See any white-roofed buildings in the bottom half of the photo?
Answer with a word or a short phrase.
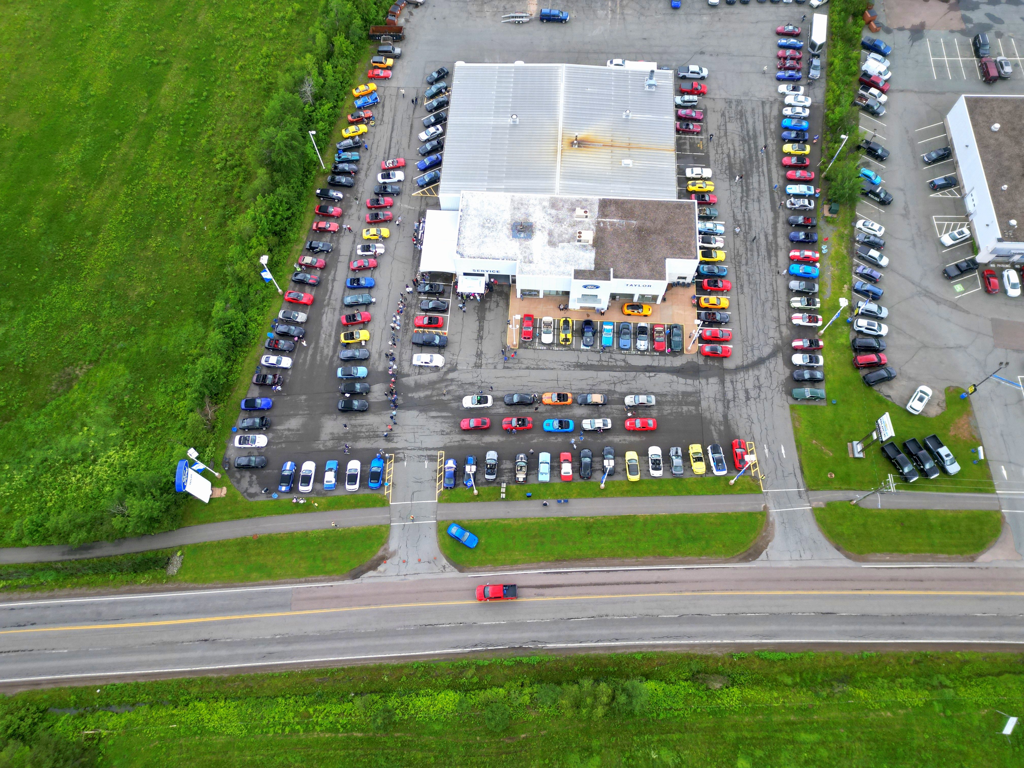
No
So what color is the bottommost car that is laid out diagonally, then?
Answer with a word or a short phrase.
blue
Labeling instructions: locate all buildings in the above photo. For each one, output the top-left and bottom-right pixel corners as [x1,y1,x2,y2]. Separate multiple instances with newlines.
[943,94,1024,267]
[438,58,701,313]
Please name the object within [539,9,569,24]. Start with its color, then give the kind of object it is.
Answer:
blue vehicle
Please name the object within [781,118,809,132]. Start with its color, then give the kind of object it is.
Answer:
blue car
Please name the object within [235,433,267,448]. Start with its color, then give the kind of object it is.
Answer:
white car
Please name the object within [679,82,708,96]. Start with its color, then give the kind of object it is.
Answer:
red vehicle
